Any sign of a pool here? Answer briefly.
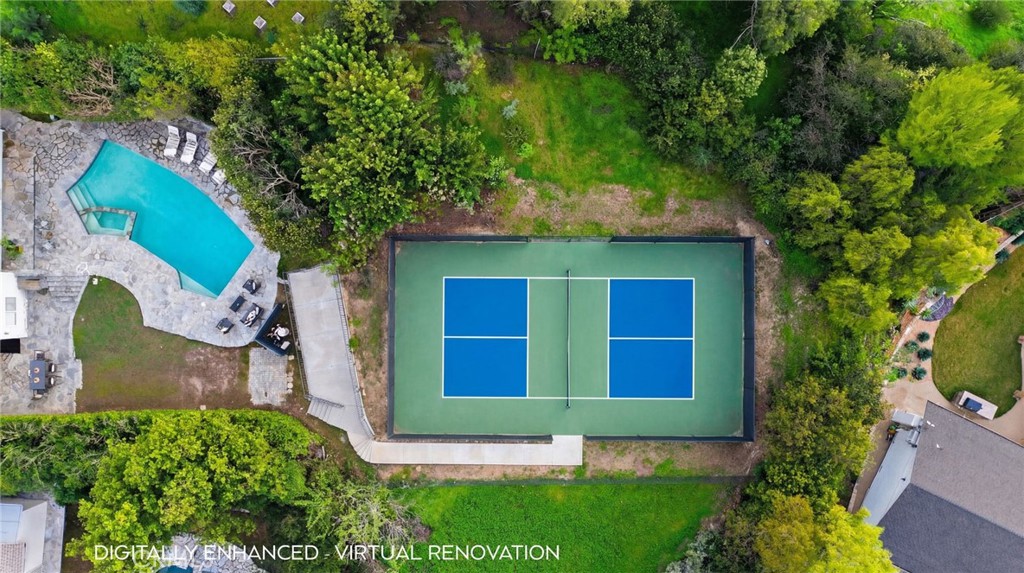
Yes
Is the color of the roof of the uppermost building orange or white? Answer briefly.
white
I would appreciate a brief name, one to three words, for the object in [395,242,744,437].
sports court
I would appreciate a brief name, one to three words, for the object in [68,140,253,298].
swimming pool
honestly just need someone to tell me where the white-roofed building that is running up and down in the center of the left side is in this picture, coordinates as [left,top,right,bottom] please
[0,273,29,338]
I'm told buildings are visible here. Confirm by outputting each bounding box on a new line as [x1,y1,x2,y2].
[0,501,49,573]
[0,273,29,338]
[863,400,1024,573]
